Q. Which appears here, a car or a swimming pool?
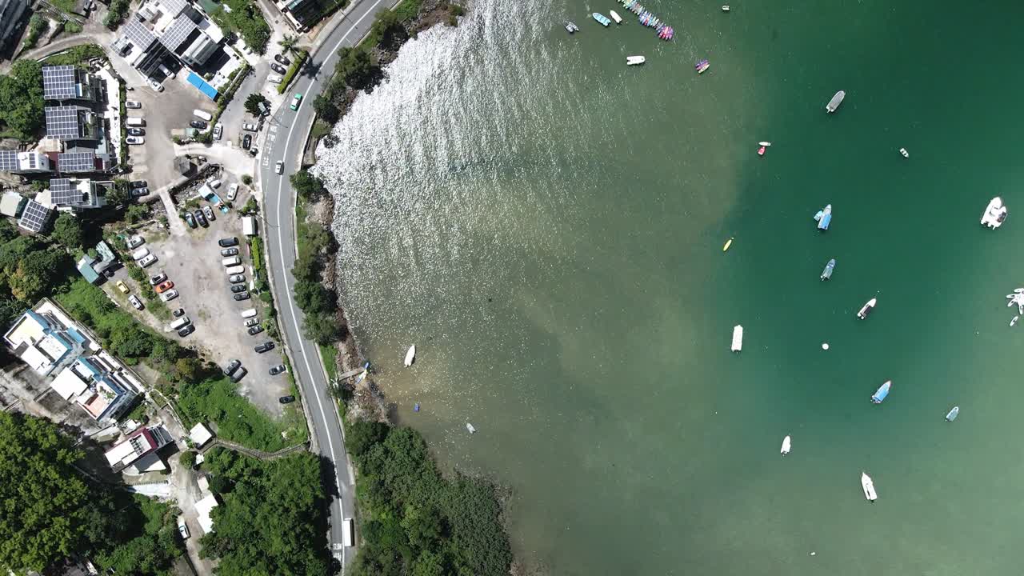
car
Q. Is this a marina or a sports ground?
marina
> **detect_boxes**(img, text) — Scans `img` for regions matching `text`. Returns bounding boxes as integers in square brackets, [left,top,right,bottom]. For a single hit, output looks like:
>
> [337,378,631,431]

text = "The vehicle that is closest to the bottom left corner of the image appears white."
[177,516,190,538]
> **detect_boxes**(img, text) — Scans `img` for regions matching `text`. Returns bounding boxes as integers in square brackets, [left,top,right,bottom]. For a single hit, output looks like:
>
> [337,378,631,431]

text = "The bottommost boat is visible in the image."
[863,473,878,503]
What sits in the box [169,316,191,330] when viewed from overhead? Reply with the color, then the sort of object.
white vehicle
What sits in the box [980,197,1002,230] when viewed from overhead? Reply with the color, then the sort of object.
white boat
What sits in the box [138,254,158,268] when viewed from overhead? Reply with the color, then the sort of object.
white car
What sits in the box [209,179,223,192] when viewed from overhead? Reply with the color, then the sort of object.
white vehicle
